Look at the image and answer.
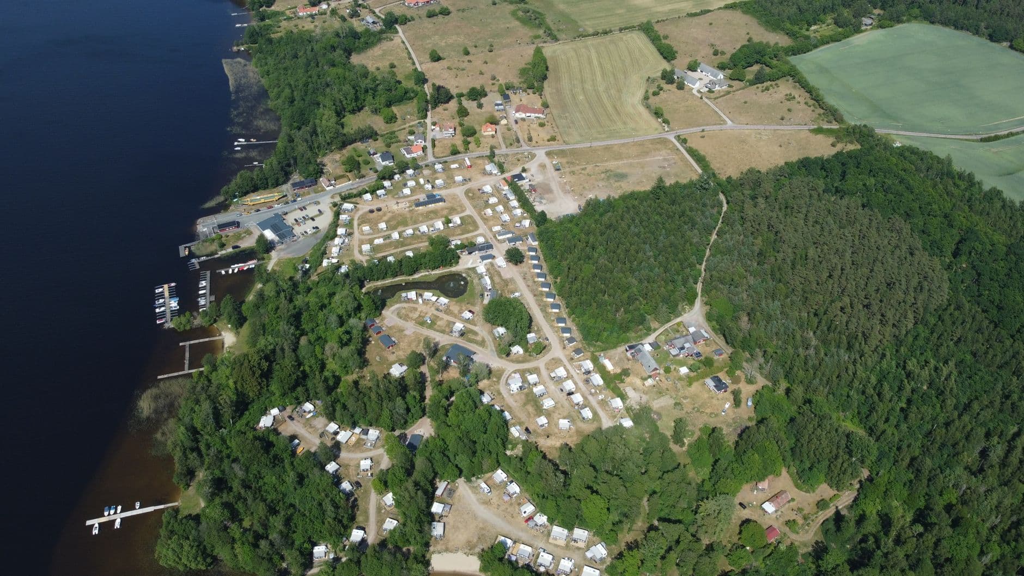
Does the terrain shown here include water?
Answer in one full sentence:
Yes, some water is visible.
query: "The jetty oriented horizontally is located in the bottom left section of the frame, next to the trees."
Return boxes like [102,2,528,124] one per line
[86,501,179,526]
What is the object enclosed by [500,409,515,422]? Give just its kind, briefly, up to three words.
vehicle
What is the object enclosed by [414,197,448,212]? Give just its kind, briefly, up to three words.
building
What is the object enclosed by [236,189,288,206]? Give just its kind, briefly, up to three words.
ship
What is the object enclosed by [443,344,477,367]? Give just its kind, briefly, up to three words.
house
